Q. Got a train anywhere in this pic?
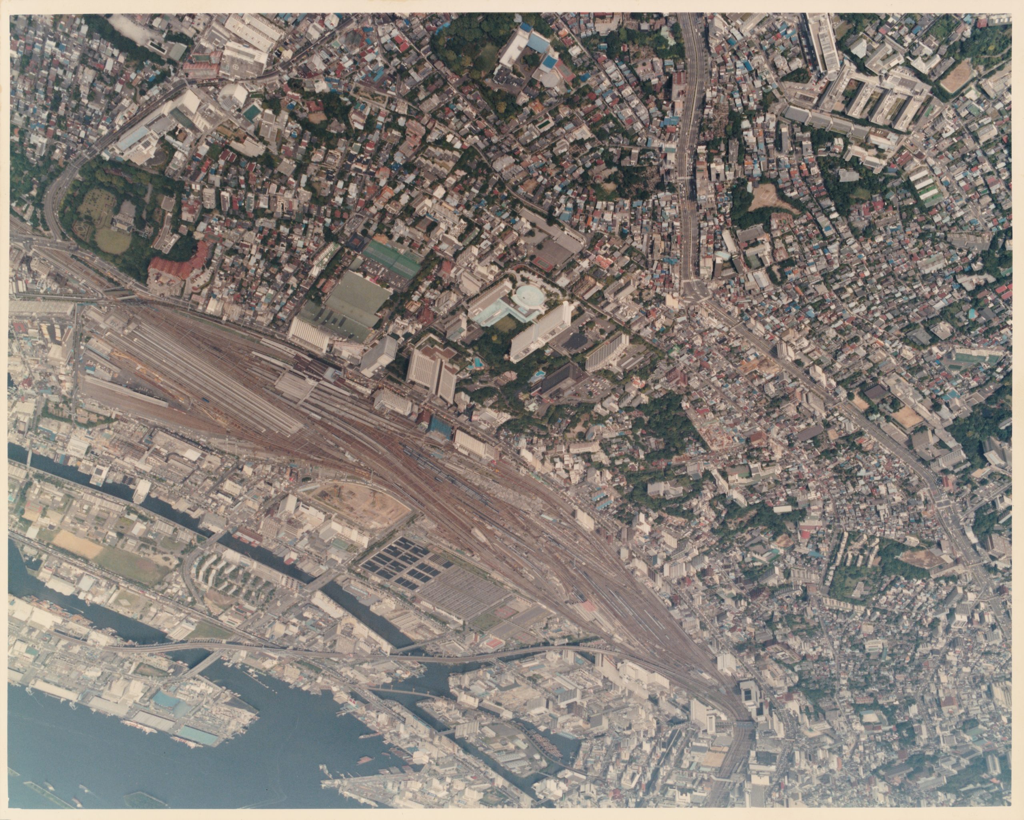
Yes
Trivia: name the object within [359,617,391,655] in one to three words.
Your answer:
building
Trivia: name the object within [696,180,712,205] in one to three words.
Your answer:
building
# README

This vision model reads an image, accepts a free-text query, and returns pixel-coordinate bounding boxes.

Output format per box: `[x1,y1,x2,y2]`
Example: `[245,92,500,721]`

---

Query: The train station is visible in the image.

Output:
[247,338,376,428]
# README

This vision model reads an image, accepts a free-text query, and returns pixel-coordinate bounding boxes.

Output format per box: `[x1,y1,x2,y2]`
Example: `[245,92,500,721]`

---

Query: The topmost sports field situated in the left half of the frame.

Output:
[53,531,103,558]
